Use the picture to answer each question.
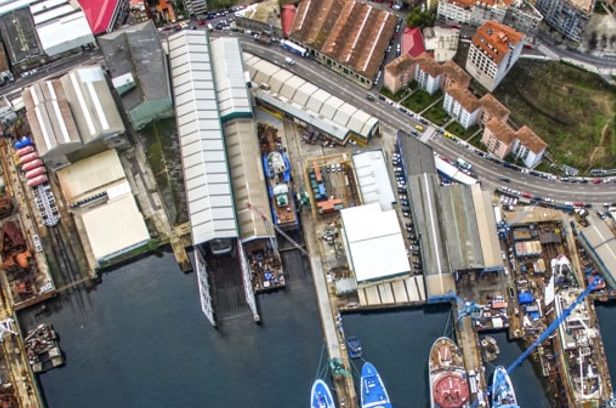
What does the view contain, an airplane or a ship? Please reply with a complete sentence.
The one in the frame is a ship.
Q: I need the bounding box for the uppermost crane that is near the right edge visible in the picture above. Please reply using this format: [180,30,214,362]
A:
[502,270,610,376]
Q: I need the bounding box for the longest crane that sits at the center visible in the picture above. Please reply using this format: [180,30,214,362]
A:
[238,194,308,255]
